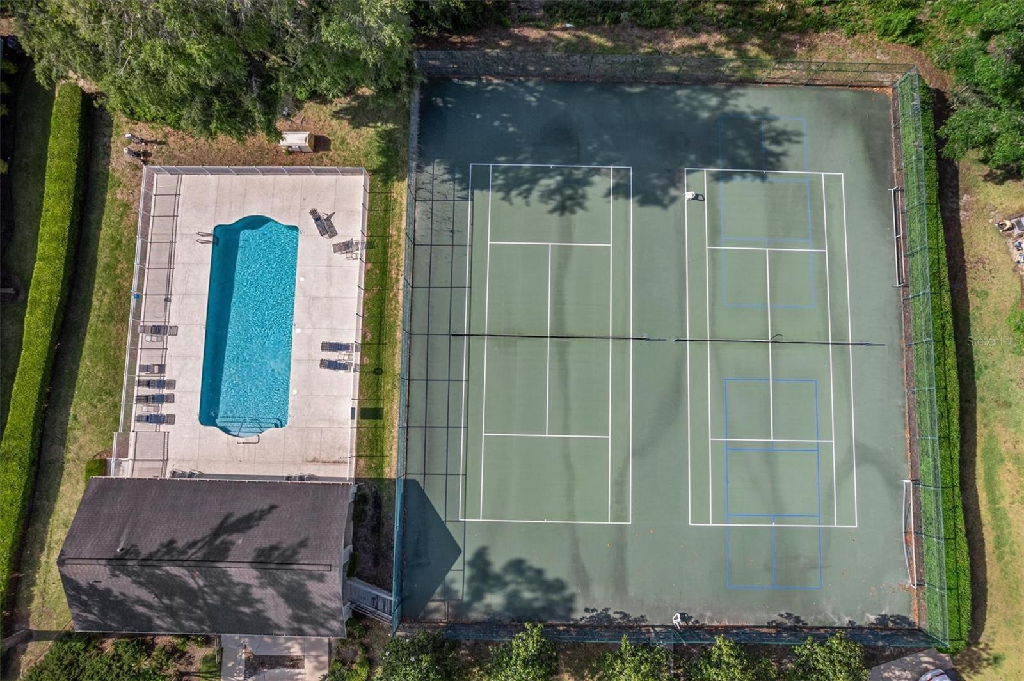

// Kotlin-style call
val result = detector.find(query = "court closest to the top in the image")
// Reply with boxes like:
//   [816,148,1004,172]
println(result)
[718,115,814,309]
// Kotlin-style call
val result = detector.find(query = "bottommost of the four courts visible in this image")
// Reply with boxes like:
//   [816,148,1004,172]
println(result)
[724,379,823,590]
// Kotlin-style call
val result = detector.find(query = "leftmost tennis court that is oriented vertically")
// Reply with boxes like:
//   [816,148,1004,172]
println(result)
[460,163,632,523]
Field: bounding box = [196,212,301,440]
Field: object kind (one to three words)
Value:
swimming pool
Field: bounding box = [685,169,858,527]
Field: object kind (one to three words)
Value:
tennis court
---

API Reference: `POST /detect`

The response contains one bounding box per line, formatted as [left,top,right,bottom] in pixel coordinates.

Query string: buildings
[58,477,358,639]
